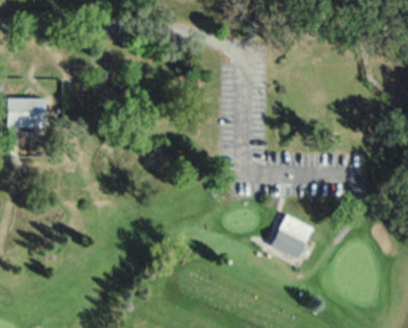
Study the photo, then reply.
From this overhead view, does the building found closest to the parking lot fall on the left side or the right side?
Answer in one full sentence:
You can find the building found closest to the parking lot on the right side of the picture.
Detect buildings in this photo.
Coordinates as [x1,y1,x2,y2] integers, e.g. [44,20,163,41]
[7,98,46,128]
[270,214,316,260]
